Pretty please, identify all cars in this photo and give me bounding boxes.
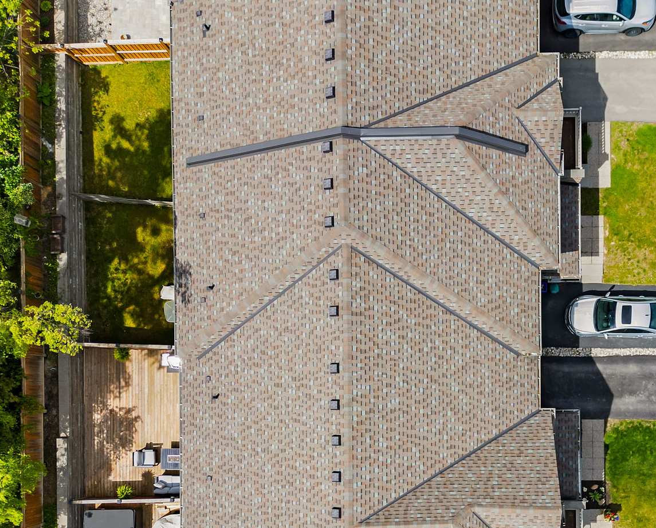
[565,290,656,340]
[551,0,655,34]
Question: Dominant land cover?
buildings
